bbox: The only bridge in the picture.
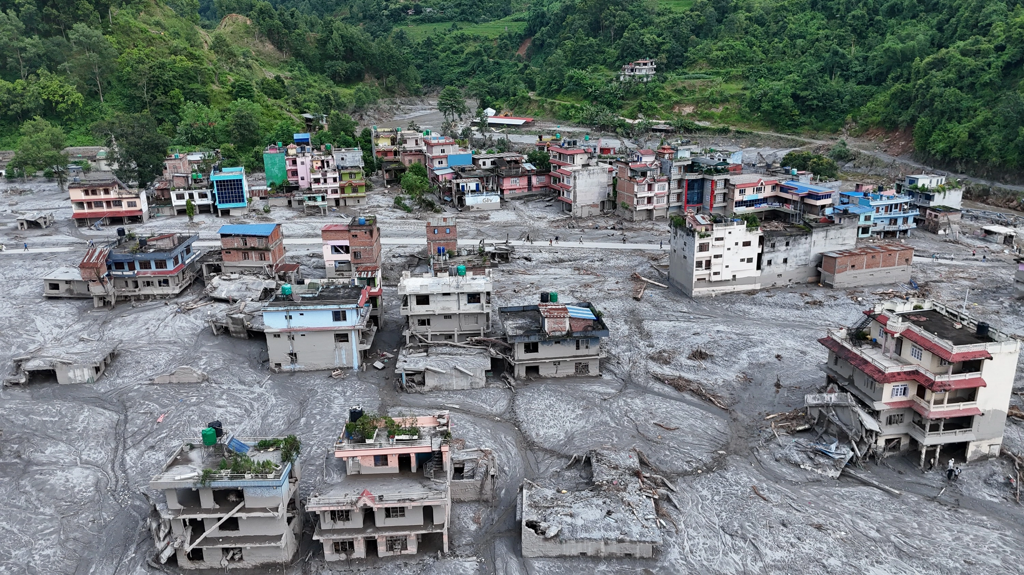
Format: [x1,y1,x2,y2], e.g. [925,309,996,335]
[962,201,1024,225]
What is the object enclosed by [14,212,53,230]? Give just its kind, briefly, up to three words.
shed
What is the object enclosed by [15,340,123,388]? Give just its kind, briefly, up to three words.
house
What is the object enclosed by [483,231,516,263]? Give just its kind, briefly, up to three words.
building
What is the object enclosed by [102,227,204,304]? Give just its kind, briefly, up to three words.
house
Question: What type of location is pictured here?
residential area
